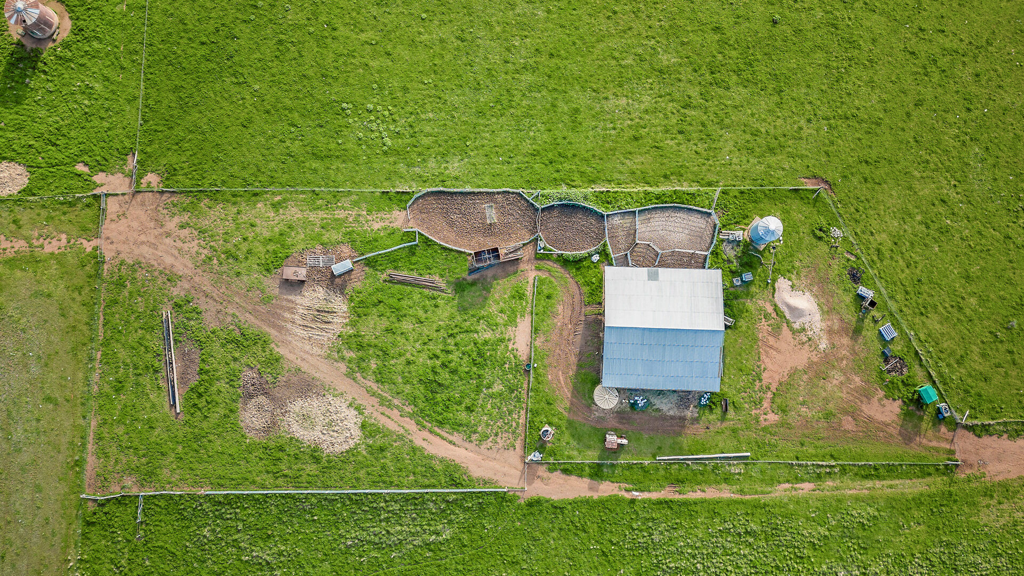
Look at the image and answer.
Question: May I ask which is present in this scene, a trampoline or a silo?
silo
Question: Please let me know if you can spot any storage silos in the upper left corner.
Yes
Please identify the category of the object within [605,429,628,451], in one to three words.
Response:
work vehicle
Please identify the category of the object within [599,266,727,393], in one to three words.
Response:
barn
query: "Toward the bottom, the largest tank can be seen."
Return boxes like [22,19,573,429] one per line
[592,385,619,410]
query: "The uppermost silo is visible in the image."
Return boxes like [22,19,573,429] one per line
[4,0,59,38]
